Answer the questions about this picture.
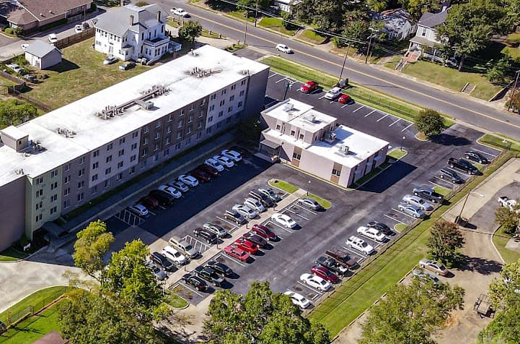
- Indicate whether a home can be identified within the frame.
Yes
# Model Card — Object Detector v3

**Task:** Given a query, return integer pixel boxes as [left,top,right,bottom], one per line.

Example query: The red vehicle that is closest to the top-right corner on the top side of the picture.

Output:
[336,91,353,104]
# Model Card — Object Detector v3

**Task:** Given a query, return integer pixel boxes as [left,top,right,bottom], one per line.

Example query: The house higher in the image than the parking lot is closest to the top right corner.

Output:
[404,14,449,59]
